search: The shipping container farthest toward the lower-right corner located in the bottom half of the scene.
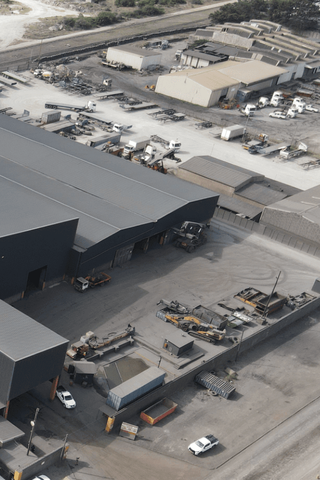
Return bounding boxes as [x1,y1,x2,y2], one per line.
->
[194,368,239,402]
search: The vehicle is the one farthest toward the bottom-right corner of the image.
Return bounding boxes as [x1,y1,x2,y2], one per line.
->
[188,432,218,458]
